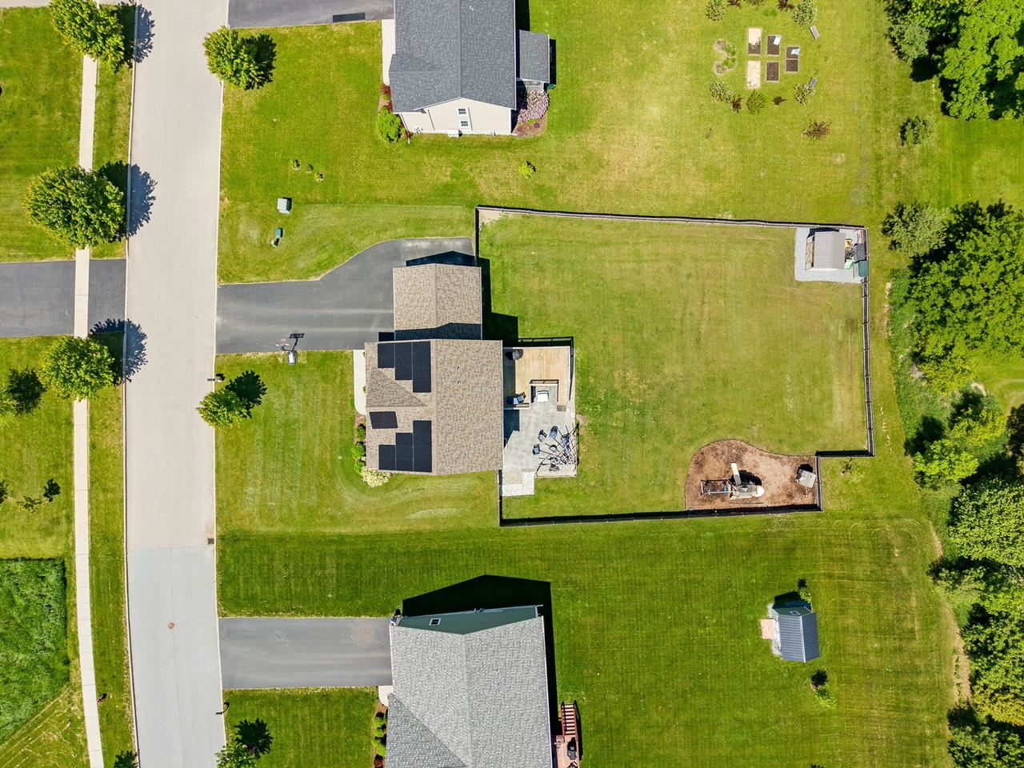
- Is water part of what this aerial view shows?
No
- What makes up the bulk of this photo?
grass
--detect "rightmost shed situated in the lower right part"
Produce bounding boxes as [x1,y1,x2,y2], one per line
[772,605,819,664]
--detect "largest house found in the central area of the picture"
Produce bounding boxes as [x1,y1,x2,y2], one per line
[361,263,504,477]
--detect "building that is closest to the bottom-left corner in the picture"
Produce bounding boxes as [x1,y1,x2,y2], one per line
[385,605,553,768]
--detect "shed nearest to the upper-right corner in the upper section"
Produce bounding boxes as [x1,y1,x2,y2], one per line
[803,232,844,271]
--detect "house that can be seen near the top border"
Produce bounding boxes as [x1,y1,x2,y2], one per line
[388,0,550,137]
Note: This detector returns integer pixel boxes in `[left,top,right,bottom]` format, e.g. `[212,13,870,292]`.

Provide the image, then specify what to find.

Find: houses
[385,605,553,768]
[388,0,550,137]
[361,263,504,477]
